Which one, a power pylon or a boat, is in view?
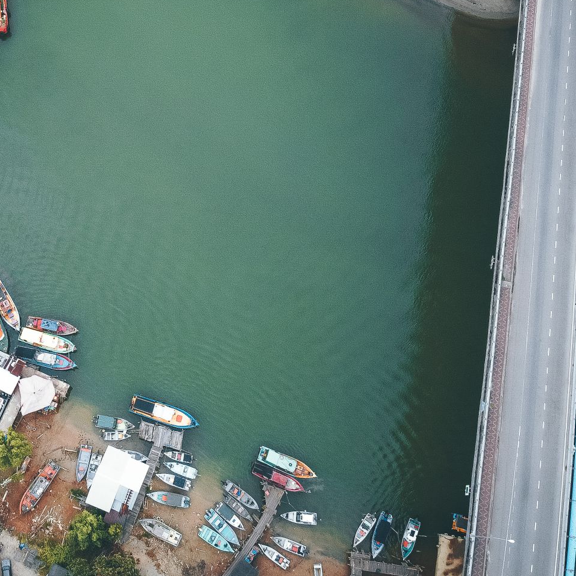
boat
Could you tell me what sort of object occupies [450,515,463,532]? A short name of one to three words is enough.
boat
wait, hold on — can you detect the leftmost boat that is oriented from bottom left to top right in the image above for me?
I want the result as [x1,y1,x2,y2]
[18,460,59,515]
